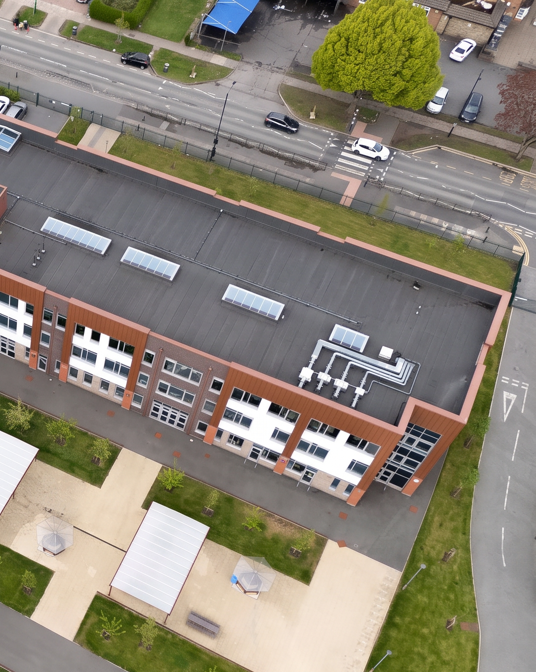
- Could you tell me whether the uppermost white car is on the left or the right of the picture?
right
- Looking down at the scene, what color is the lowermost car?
white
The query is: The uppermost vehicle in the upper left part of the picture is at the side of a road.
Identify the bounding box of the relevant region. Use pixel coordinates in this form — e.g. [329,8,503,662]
[120,49,151,69]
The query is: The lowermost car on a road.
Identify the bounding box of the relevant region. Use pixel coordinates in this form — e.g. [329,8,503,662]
[353,138,390,162]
